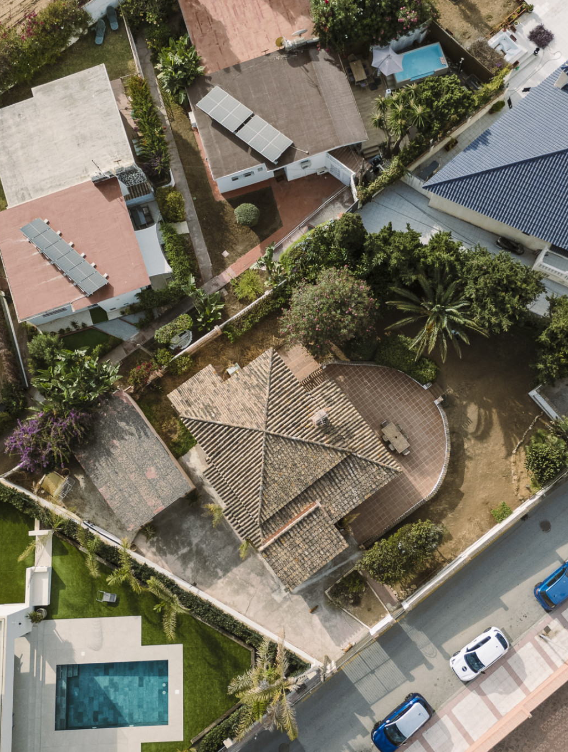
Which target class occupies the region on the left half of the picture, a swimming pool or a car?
swimming pool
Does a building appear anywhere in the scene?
Yes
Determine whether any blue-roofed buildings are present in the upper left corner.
No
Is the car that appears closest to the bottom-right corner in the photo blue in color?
No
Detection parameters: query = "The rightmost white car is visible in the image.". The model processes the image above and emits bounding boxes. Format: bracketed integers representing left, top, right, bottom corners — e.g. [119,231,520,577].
[448,623,512,683]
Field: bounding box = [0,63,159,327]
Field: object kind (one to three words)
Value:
house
